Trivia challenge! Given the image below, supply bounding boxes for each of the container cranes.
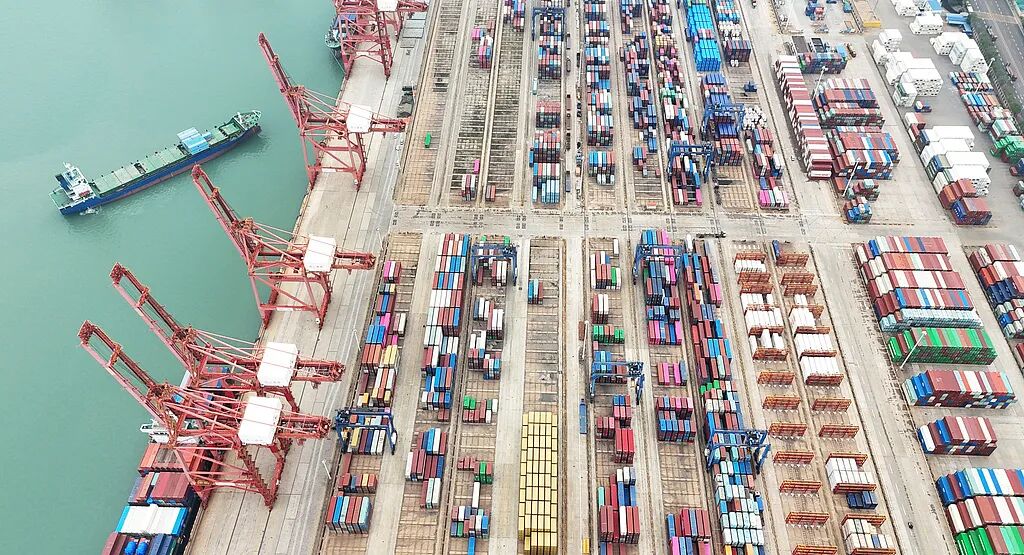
[698,92,743,129]
[332,407,396,453]
[260,31,409,192]
[702,426,770,472]
[355,4,405,42]
[589,358,644,402]
[470,242,516,283]
[110,260,345,455]
[533,6,565,40]
[192,163,378,331]
[75,322,331,513]
[632,228,684,269]
[666,139,712,178]
[330,0,432,80]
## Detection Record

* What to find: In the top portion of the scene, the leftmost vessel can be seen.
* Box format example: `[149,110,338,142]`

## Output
[52,110,265,217]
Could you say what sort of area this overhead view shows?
port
